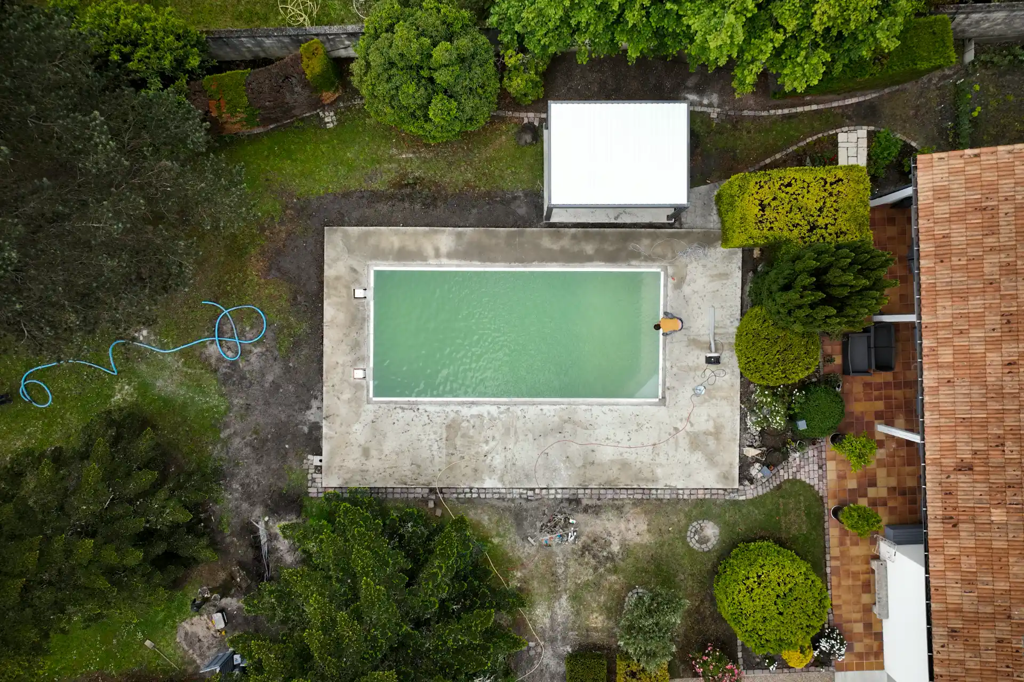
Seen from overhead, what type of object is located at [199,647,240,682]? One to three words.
shed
